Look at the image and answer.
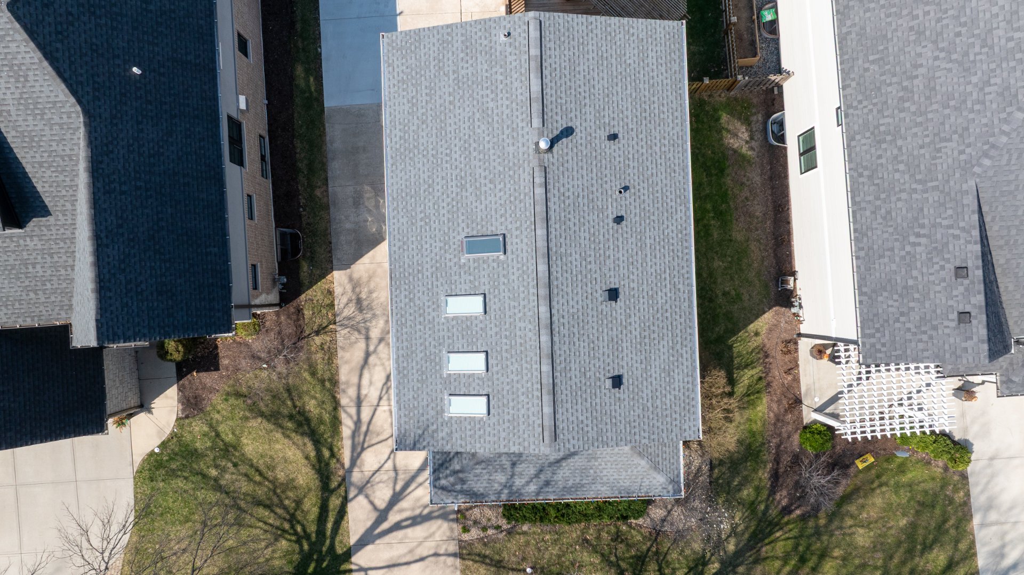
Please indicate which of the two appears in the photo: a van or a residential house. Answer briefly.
residential house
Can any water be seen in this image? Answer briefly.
No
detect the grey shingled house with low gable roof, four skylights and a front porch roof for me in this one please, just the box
[381,14,702,513]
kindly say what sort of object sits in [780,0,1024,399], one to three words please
house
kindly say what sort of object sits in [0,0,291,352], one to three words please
house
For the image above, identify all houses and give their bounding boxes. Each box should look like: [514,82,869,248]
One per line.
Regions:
[0,0,291,352]
[780,0,1024,399]
[381,14,702,513]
